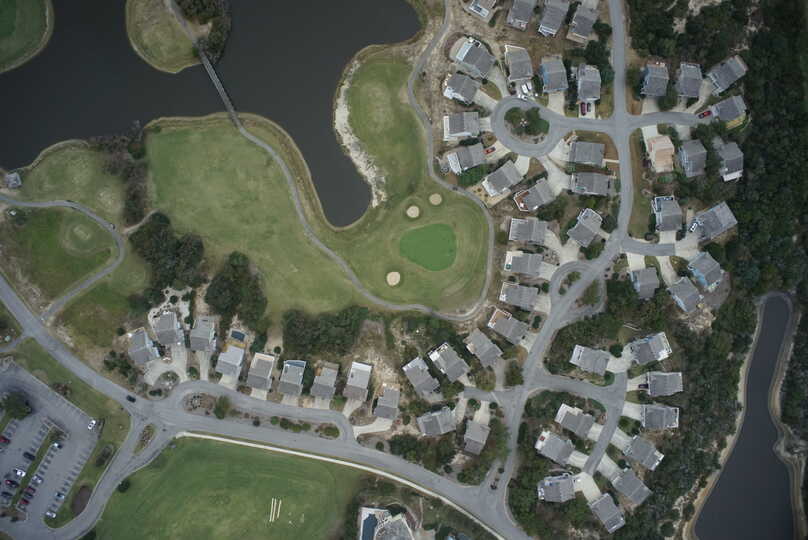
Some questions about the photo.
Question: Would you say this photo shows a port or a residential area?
residential area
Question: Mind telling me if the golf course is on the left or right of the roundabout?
to its left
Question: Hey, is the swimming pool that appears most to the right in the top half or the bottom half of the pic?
bottom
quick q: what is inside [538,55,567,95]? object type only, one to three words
house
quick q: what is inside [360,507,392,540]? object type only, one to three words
swimming pool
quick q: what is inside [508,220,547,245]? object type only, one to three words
house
